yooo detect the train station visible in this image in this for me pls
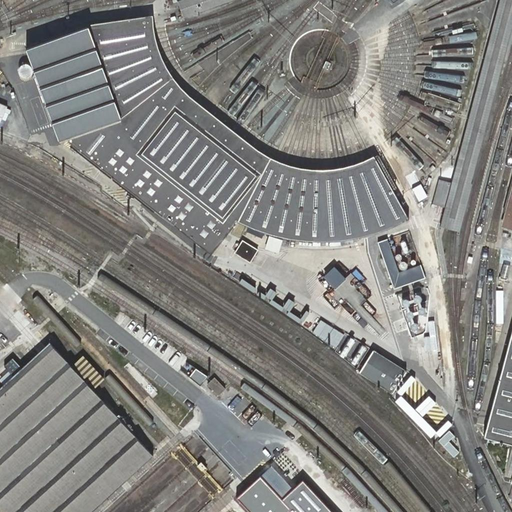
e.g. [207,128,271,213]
[94,272,402,512]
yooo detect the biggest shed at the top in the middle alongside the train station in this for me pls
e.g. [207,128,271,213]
[70,16,408,254]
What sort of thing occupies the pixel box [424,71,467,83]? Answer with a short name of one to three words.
rail car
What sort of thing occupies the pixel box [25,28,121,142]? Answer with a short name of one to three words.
building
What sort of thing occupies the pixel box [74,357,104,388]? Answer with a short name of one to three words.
shed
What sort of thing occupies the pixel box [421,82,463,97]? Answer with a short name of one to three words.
rail car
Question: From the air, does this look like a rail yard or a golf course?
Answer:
rail yard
